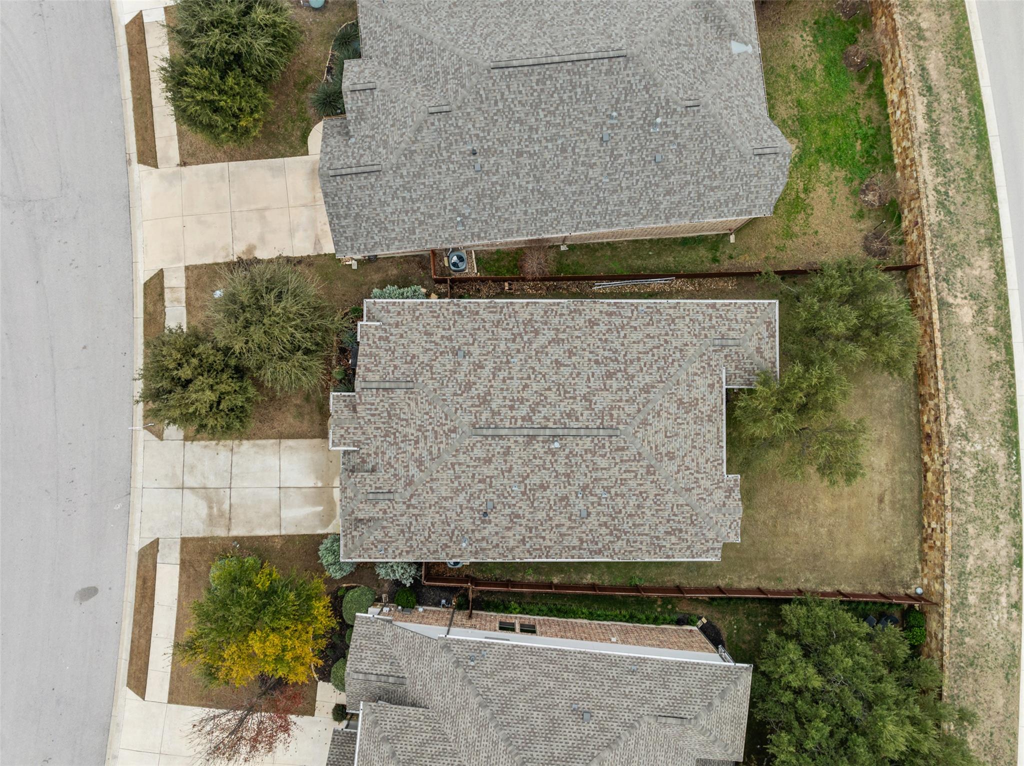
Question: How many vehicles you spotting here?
zero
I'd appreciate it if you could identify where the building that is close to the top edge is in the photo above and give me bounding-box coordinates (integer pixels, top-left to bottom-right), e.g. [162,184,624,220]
[319,0,792,264]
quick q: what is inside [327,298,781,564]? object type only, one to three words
house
